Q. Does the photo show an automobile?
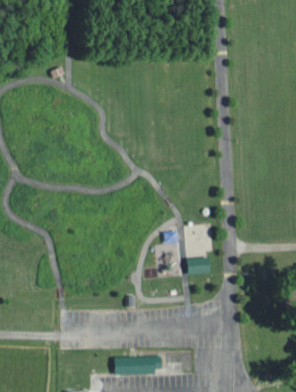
No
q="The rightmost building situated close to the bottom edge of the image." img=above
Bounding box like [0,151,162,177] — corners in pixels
[114,357,162,374]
